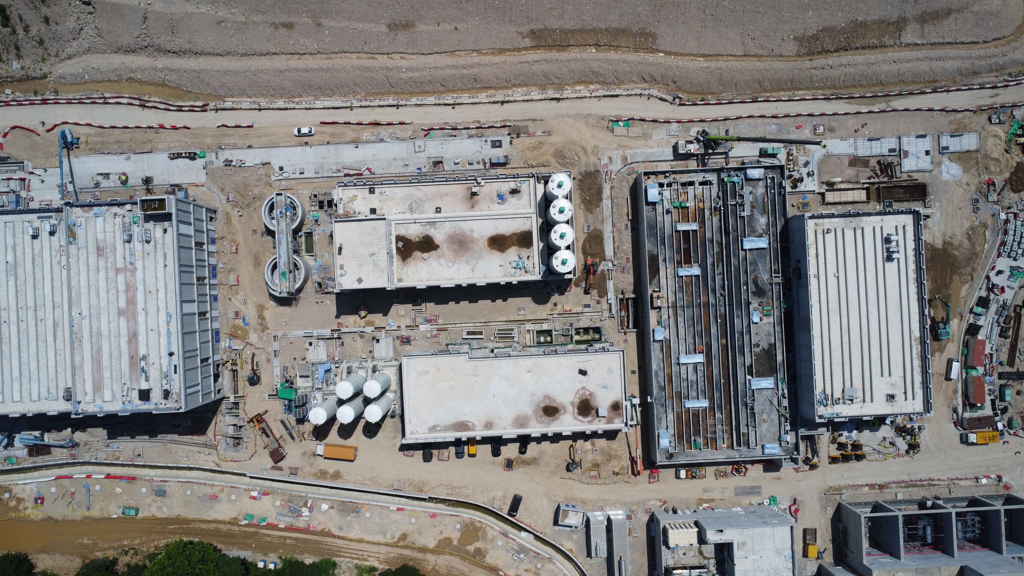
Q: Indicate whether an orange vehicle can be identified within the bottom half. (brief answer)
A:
Yes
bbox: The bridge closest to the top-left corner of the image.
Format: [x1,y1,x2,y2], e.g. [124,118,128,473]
[274,192,295,292]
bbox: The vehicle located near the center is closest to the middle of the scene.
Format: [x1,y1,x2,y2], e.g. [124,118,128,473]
[586,255,598,291]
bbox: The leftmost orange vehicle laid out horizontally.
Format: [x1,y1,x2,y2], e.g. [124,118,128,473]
[314,443,361,461]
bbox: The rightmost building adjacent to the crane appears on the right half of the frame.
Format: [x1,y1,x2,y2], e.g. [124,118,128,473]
[788,208,934,422]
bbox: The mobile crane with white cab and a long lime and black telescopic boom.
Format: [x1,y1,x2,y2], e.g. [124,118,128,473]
[676,126,828,166]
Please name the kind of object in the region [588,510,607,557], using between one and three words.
building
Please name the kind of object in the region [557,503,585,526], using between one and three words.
shed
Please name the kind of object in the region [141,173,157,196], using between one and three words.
work vehicle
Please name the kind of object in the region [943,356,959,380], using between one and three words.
vehicle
